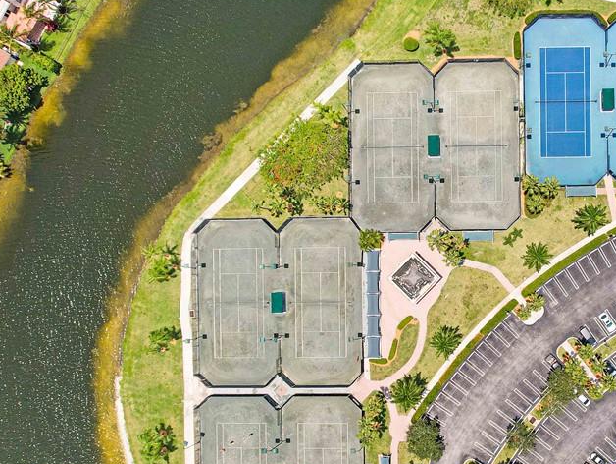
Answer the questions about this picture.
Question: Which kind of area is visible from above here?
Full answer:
What you see here is a sports ground.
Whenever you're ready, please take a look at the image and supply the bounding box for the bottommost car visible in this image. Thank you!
[589,450,609,464]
